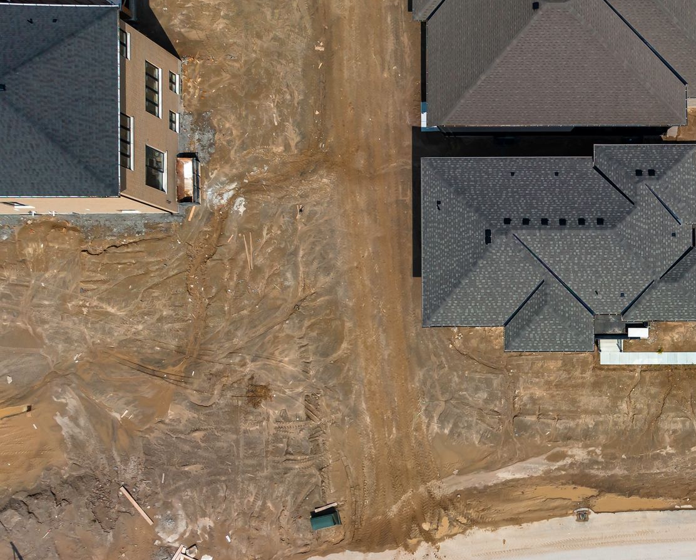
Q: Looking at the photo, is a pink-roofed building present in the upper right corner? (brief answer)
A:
No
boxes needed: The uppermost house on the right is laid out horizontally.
[412,0,696,134]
